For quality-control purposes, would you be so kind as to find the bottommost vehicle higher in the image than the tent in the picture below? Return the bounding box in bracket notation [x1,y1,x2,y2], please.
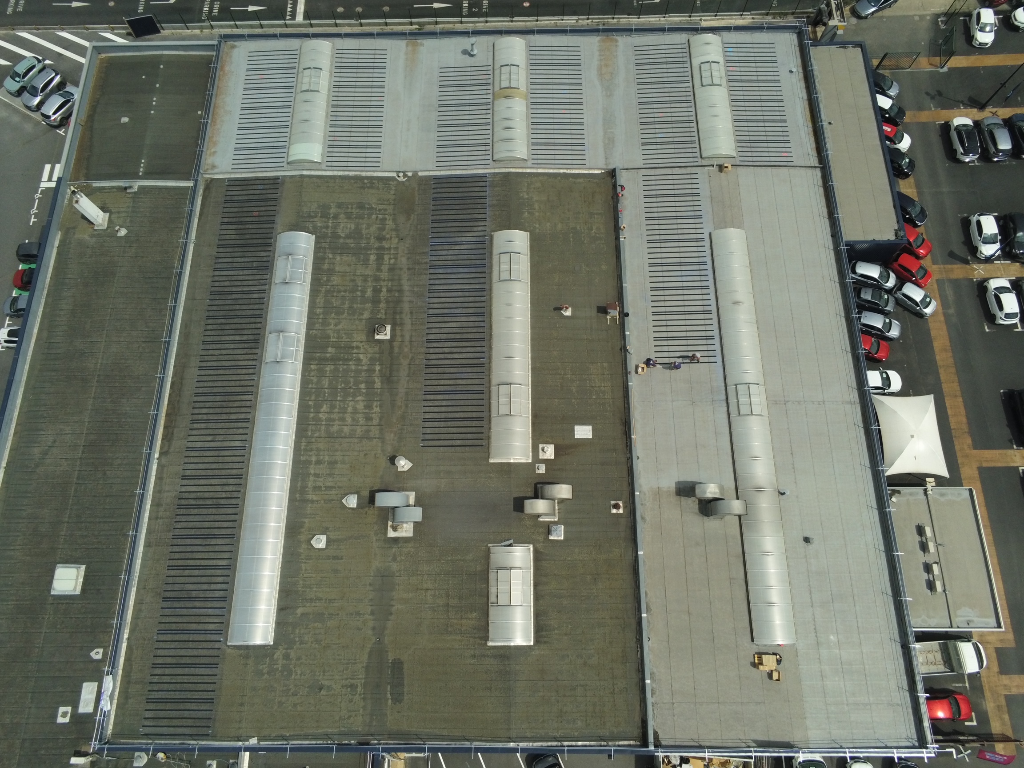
[870,367,905,395]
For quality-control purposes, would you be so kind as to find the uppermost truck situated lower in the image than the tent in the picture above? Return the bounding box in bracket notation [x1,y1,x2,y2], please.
[918,637,998,674]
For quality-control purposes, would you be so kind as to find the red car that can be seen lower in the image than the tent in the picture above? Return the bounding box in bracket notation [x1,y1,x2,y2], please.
[927,692,977,726]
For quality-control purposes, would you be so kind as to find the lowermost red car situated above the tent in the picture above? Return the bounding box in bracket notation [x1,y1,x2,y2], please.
[864,334,893,365]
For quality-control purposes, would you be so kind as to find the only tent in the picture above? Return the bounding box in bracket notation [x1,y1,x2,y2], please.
[874,394,950,482]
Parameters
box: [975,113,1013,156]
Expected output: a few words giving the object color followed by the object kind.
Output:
gray car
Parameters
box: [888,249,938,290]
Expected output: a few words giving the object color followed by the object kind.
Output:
red car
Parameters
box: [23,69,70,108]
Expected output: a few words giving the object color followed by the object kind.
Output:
gray car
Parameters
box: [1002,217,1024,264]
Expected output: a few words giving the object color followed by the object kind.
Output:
black car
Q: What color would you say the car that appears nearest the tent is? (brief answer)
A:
white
